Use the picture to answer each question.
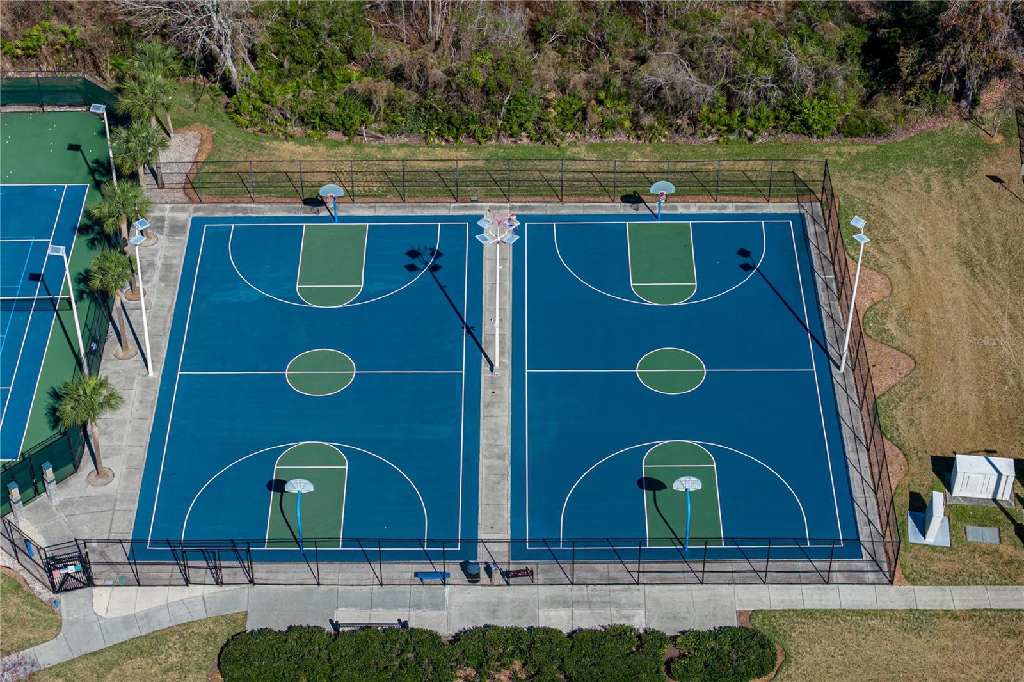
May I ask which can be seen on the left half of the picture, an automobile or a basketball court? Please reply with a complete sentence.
What appears on the left half of the picture is a basketball court.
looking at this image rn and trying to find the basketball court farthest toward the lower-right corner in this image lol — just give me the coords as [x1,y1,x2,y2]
[507,211,862,561]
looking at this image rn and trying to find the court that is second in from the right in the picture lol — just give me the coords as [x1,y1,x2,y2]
[127,212,486,562]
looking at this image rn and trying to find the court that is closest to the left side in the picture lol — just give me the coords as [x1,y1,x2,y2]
[0,110,137,513]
